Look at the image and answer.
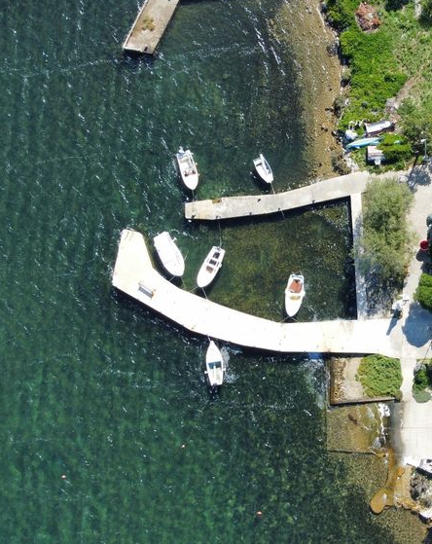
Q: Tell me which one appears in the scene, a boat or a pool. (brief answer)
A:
boat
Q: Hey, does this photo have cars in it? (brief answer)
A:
No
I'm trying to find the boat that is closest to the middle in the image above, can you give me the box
[189,233,226,300]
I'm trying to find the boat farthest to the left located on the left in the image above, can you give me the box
[154,231,185,289]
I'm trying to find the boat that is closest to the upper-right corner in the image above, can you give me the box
[365,119,393,134]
